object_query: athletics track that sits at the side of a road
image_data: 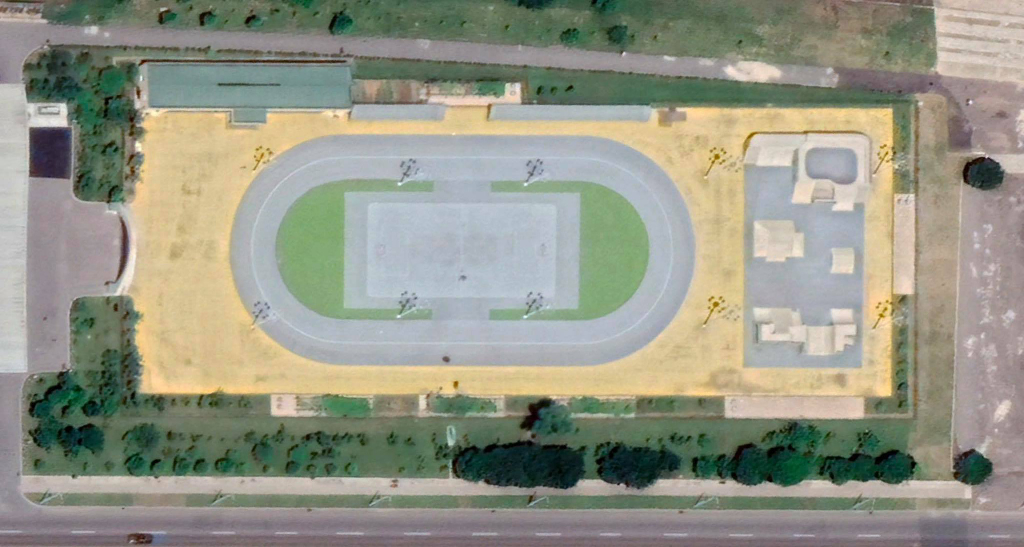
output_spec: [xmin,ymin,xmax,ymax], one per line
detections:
[231,134,695,366]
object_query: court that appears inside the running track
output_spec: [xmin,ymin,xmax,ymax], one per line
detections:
[368,203,557,297]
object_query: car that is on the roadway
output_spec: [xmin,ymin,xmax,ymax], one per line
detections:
[128,533,152,545]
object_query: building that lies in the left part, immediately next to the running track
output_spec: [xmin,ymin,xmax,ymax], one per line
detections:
[133,62,352,126]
